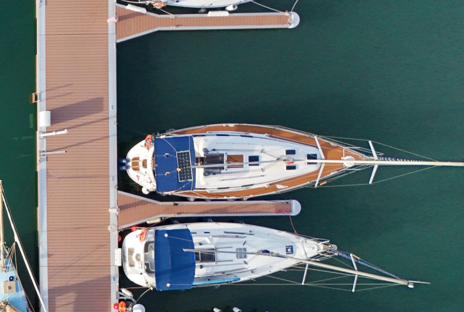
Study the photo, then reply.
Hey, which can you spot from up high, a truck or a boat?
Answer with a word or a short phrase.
boat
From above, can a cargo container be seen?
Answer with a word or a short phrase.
No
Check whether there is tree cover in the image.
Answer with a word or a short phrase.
No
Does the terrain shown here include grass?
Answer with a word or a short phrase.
No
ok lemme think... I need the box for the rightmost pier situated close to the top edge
[116,4,300,42]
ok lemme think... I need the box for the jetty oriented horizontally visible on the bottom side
[118,191,301,230]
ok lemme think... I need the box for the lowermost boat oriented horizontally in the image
[121,222,430,292]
